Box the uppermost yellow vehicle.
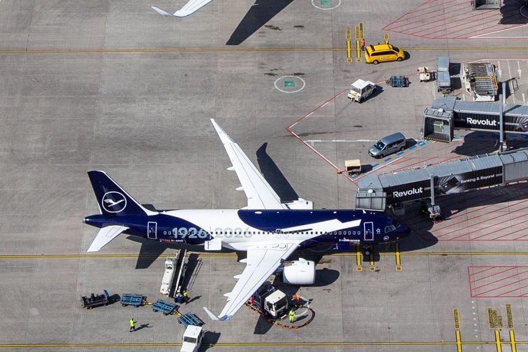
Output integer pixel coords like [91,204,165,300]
[364,41,404,63]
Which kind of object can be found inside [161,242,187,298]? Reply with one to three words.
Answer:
work vehicle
